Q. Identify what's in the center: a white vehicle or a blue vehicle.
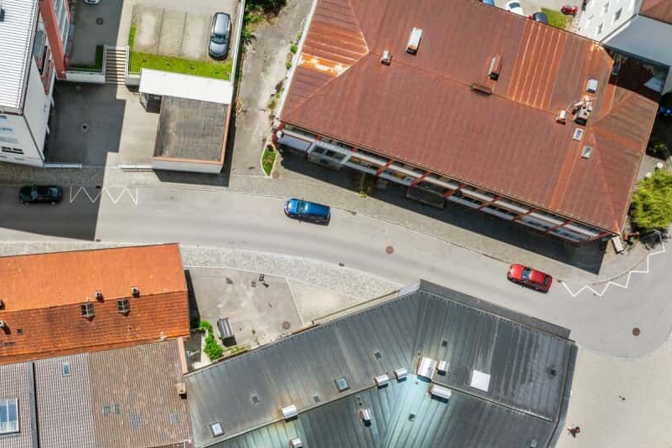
blue vehicle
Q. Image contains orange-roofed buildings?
Yes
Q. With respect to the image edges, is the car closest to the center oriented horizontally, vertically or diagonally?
horizontally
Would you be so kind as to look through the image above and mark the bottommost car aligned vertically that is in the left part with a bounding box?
[208,13,231,64]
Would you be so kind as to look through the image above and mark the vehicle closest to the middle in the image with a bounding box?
[284,199,330,224]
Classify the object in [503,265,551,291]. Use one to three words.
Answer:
car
